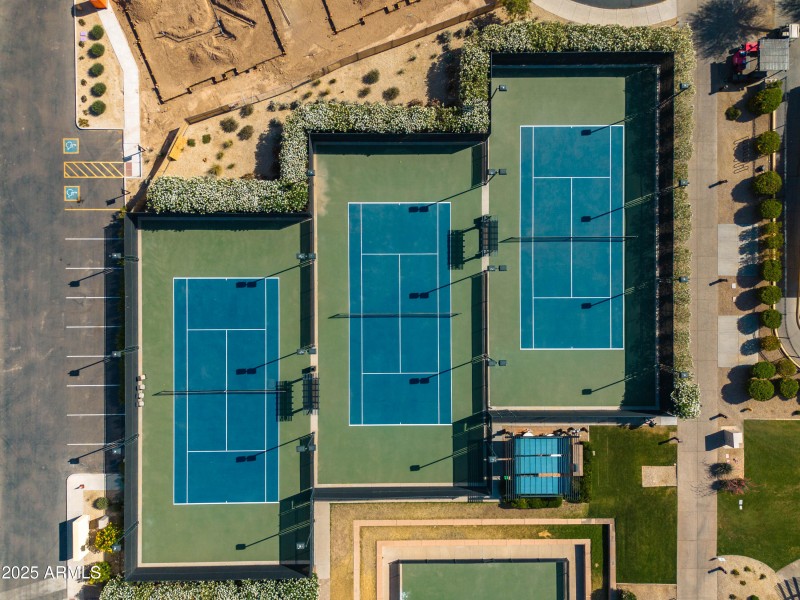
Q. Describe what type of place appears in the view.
sports ground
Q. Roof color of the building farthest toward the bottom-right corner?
blue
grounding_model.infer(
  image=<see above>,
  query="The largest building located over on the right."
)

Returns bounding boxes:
[505,430,580,500]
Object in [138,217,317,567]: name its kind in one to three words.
tennis court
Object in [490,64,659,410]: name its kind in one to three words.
tennis court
